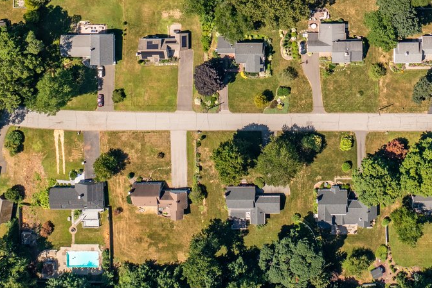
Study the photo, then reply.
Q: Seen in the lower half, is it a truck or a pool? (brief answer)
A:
pool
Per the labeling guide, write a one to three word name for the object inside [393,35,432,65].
house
